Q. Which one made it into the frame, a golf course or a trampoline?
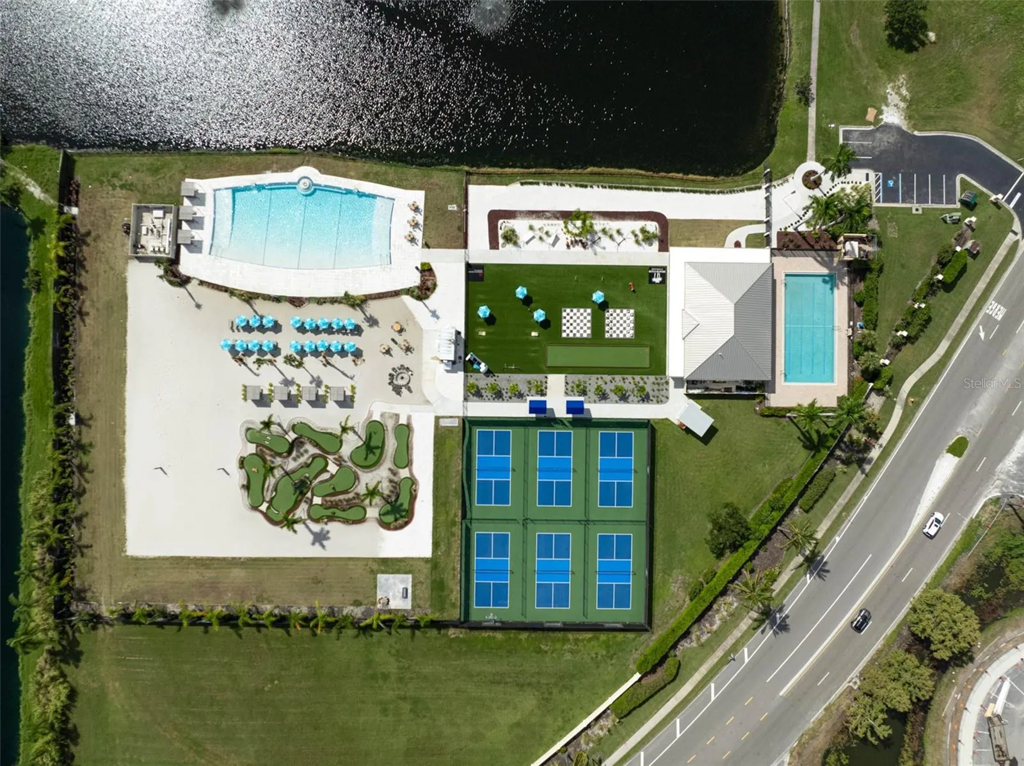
golf course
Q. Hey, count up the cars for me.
2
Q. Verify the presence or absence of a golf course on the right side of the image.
No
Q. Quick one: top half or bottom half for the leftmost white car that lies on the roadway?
bottom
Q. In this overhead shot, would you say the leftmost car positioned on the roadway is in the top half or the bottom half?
bottom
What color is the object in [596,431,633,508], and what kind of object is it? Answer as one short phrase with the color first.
blue sports court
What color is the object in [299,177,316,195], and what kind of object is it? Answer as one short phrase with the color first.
white fountain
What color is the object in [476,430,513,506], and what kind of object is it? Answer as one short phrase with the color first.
blue sports court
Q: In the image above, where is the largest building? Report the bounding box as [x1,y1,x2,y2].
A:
[666,248,773,381]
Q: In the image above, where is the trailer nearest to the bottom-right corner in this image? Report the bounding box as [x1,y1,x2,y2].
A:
[989,716,1012,766]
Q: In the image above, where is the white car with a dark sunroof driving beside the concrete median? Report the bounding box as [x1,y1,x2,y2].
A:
[922,512,943,539]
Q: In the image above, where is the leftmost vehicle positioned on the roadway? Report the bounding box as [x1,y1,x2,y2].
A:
[850,607,871,634]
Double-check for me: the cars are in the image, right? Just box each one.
[922,512,943,539]
[850,607,871,634]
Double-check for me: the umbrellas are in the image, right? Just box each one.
[305,318,317,331]
[479,306,491,319]
[248,340,261,351]
[290,316,303,328]
[317,340,330,351]
[304,339,316,351]
[235,314,247,326]
[332,318,344,331]
[330,340,342,352]
[263,339,275,351]
[344,318,356,330]
[249,314,260,327]
[220,339,232,352]
[516,287,528,299]
[593,291,605,303]
[290,339,302,352]
[534,309,545,321]
[262,317,275,328]
[317,318,329,329]
[344,341,356,353]
[235,339,247,352]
